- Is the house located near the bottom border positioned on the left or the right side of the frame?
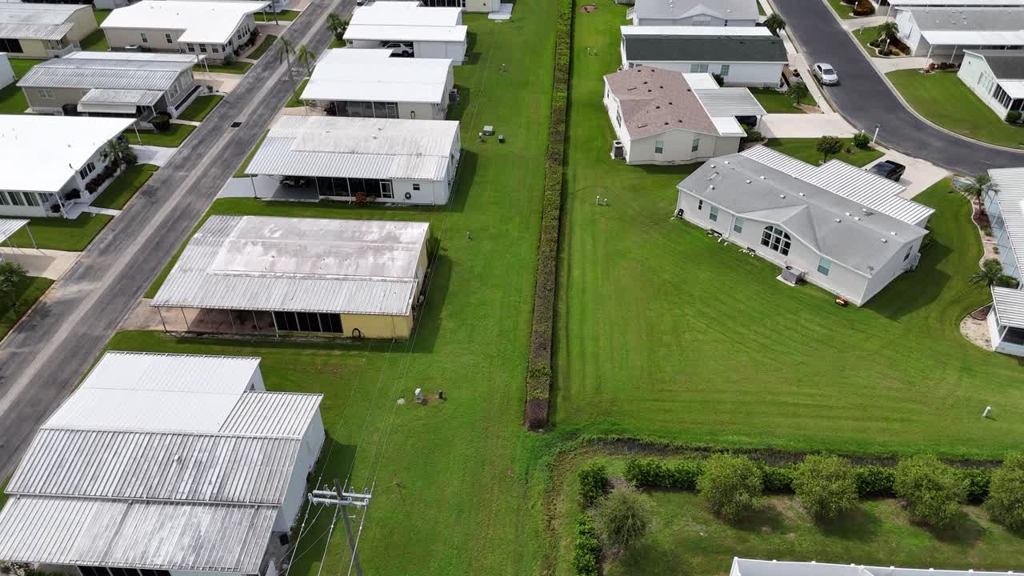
left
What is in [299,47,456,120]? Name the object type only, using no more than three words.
house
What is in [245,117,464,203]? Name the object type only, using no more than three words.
house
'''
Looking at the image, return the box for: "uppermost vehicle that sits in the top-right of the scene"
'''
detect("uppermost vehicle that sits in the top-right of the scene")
[814,64,838,83]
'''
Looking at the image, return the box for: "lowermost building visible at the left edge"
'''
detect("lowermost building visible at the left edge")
[0,347,324,576]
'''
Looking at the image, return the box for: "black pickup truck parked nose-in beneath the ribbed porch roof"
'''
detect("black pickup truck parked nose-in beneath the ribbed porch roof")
[869,160,905,182]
